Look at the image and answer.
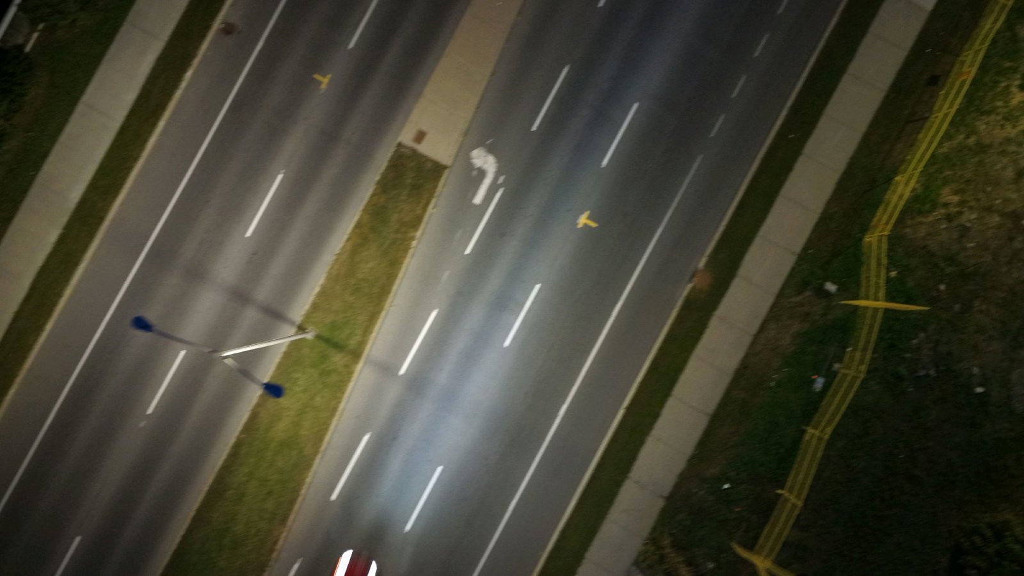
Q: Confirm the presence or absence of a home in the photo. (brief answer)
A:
No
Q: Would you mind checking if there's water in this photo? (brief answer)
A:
No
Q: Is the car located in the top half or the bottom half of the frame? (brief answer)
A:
bottom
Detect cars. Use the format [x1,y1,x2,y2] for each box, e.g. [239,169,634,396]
[329,546,375,576]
